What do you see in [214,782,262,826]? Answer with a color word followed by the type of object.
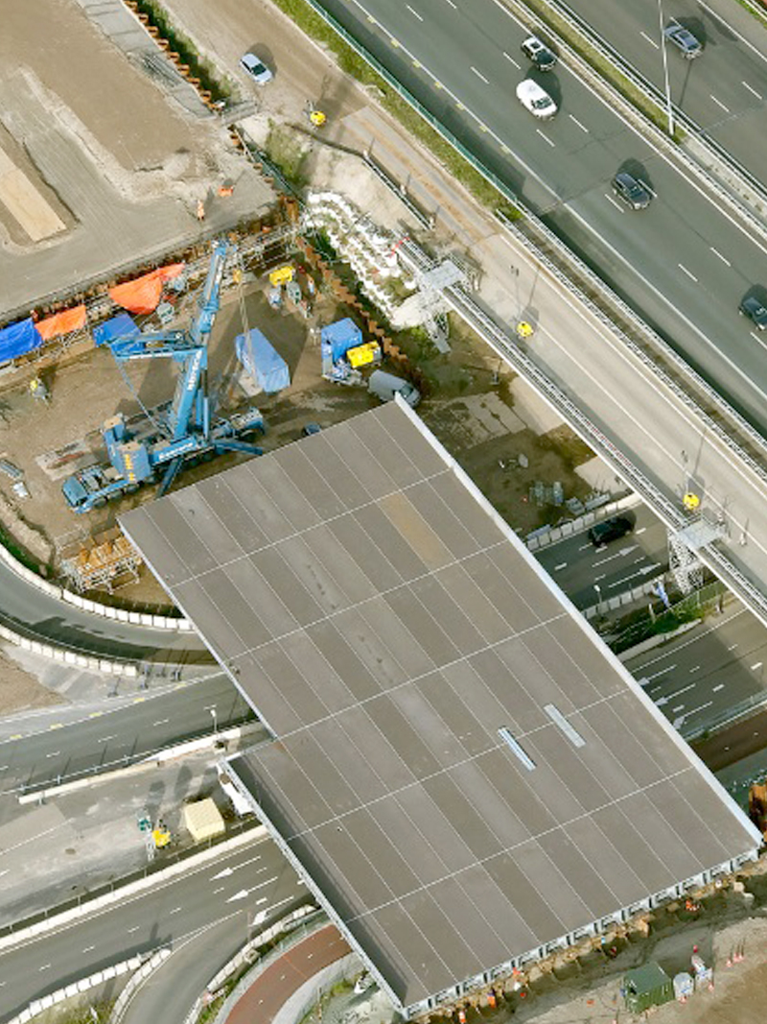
white truck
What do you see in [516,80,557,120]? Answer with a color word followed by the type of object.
white car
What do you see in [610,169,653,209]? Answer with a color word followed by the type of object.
gray car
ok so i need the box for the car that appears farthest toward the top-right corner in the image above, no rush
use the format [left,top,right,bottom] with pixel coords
[664,26,705,58]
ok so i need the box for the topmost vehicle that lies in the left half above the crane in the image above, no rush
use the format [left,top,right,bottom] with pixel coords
[238,52,272,86]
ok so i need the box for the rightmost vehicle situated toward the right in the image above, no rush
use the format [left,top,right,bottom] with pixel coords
[738,284,767,327]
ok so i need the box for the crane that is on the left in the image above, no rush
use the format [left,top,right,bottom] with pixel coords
[66,237,278,516]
